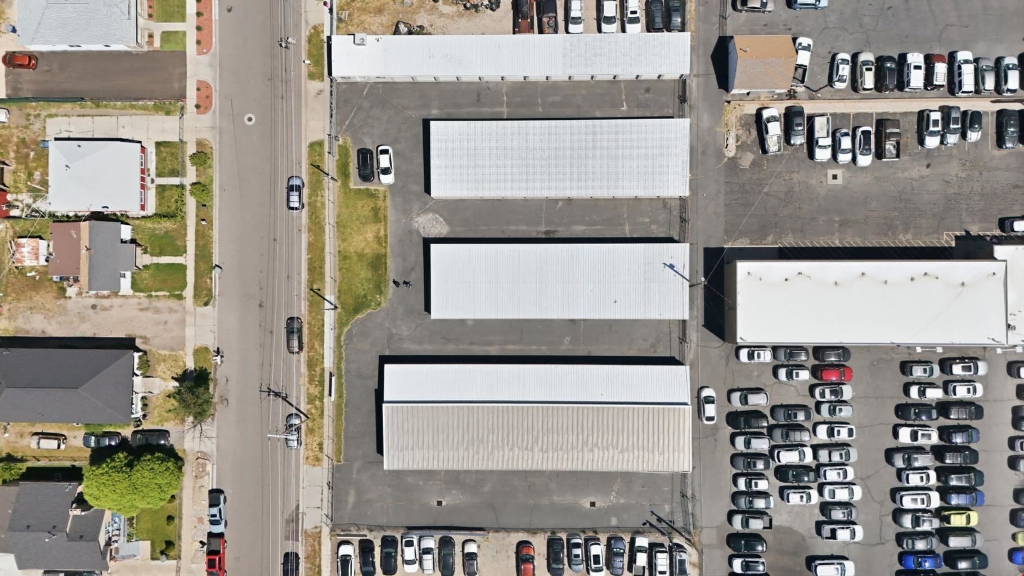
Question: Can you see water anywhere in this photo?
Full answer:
No, there is no water in the image.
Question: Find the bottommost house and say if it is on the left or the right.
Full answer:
The bottommost house appears in the left half of the scene.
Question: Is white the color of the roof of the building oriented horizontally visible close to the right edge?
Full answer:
Yes, the roof of the building oriented horizontally visible close to the right edge is white.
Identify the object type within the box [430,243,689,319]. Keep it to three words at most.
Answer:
building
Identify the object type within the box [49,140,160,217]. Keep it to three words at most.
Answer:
house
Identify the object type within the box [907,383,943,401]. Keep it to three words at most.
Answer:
car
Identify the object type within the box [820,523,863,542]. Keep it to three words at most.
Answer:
vehicle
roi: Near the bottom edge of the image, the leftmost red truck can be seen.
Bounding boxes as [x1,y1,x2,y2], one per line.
[204,532,226,576]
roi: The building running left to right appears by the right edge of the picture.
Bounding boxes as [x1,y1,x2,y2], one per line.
[724,261,1007,345]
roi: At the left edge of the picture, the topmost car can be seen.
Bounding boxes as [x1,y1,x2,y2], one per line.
[2,51,39,71]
